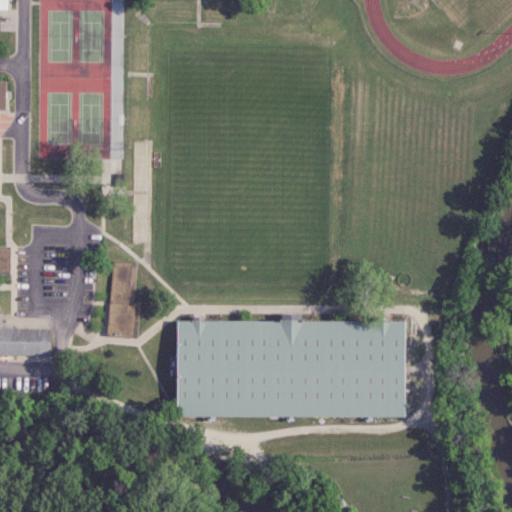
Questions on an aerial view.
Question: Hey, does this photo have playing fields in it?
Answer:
Yes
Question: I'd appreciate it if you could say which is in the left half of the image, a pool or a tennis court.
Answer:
tennis court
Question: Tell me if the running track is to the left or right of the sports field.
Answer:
right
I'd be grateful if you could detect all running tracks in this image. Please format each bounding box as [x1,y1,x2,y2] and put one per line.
[364,0,512,76]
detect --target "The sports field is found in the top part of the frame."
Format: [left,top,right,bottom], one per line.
[168,40,330,300]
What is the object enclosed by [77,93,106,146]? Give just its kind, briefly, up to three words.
tennis court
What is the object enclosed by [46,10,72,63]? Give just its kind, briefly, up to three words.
tennis court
